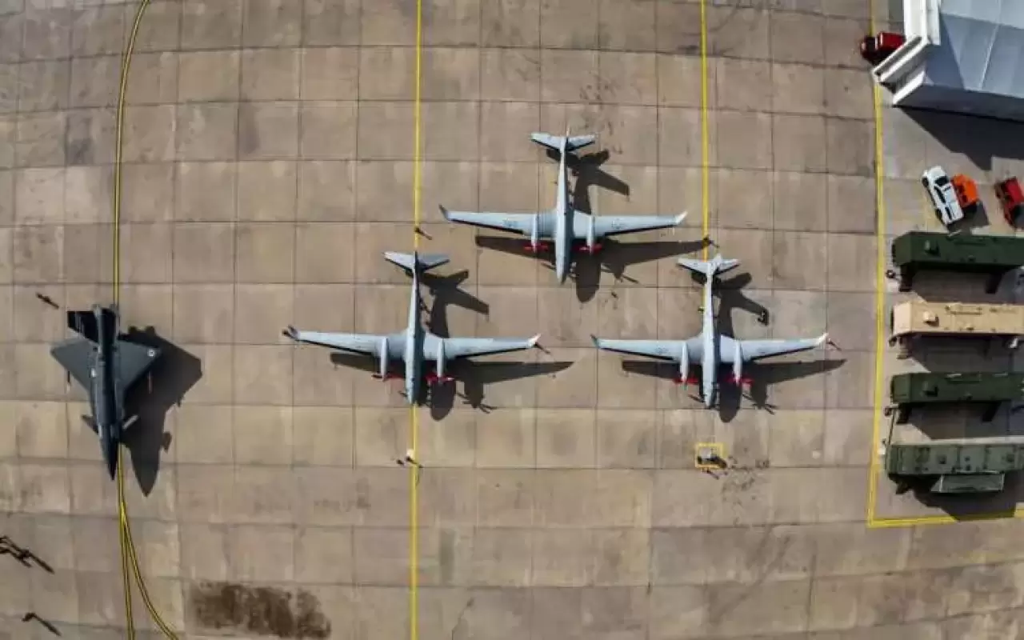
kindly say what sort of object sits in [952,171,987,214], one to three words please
car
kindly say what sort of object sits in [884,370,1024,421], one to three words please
trailer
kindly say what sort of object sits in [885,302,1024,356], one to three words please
trailer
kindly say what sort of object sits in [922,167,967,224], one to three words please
truck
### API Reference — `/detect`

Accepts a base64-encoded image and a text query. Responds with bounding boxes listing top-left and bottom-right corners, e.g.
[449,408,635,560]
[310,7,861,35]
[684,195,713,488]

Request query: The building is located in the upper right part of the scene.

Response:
[875,0,1024,120]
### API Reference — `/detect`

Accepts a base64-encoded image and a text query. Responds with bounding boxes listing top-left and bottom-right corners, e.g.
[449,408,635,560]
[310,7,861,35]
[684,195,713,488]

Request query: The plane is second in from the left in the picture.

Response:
[289,254,535,405]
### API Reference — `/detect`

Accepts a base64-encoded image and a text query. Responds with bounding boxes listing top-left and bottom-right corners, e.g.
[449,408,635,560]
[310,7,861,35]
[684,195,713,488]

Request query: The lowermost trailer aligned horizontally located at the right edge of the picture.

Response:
[880,437,1024,491]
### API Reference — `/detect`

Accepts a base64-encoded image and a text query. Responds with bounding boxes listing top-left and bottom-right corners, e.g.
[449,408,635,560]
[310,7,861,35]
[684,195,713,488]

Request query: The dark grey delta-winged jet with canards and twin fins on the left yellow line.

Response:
[54,304,163,478]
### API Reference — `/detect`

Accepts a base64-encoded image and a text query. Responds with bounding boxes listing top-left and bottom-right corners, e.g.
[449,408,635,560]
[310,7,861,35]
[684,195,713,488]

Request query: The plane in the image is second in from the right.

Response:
[442,128,688,283]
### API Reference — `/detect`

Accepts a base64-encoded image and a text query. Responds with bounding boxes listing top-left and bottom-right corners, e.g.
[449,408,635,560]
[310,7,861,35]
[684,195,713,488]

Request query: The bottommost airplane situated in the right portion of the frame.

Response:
[595,260,829,404]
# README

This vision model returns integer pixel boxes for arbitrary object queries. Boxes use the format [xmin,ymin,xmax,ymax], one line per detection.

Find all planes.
[54,304,163,478]
[289,254,535,405]
[595,260,829,404]
[442,128,688,283]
